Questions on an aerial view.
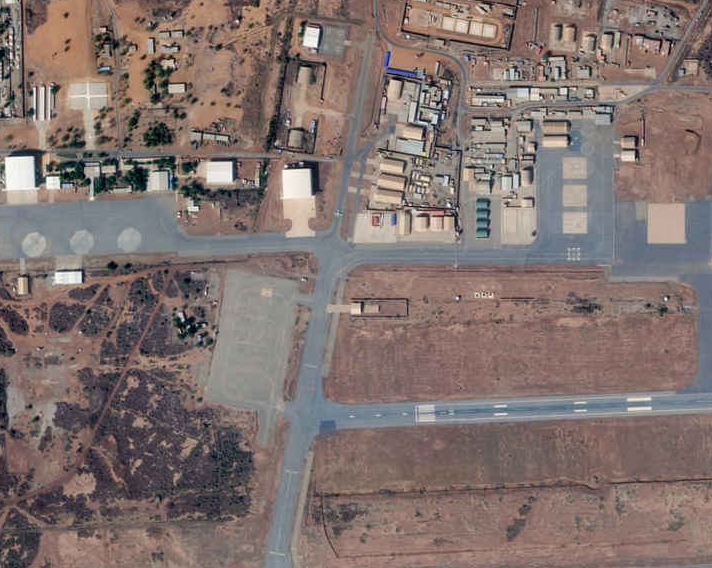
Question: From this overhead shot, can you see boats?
No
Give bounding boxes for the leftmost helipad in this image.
[22,232,46,257]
